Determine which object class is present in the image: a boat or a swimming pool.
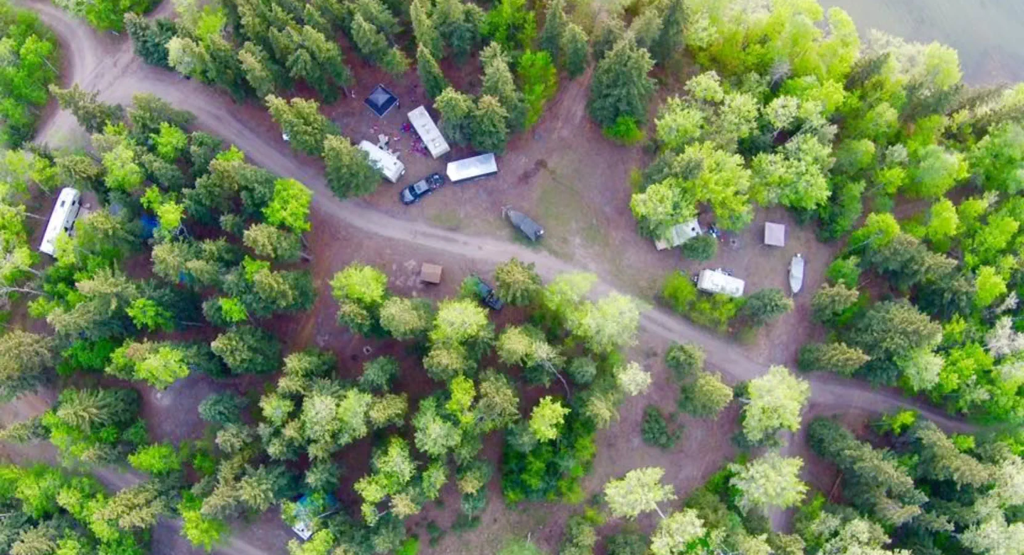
boat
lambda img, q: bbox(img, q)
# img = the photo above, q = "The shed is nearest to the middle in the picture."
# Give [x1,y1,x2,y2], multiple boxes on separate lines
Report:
[421,263,445,284]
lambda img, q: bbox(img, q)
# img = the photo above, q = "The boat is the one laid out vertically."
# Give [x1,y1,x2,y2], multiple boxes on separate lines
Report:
[789,253,803,293]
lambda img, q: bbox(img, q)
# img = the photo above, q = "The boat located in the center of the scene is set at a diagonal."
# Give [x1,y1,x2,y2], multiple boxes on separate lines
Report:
[505,209,545,241]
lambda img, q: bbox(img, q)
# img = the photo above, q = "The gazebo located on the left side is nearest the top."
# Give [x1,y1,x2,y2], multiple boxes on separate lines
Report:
[365,84,400,121]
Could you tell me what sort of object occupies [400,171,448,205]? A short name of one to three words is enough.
truck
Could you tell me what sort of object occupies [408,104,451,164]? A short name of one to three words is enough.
trailer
